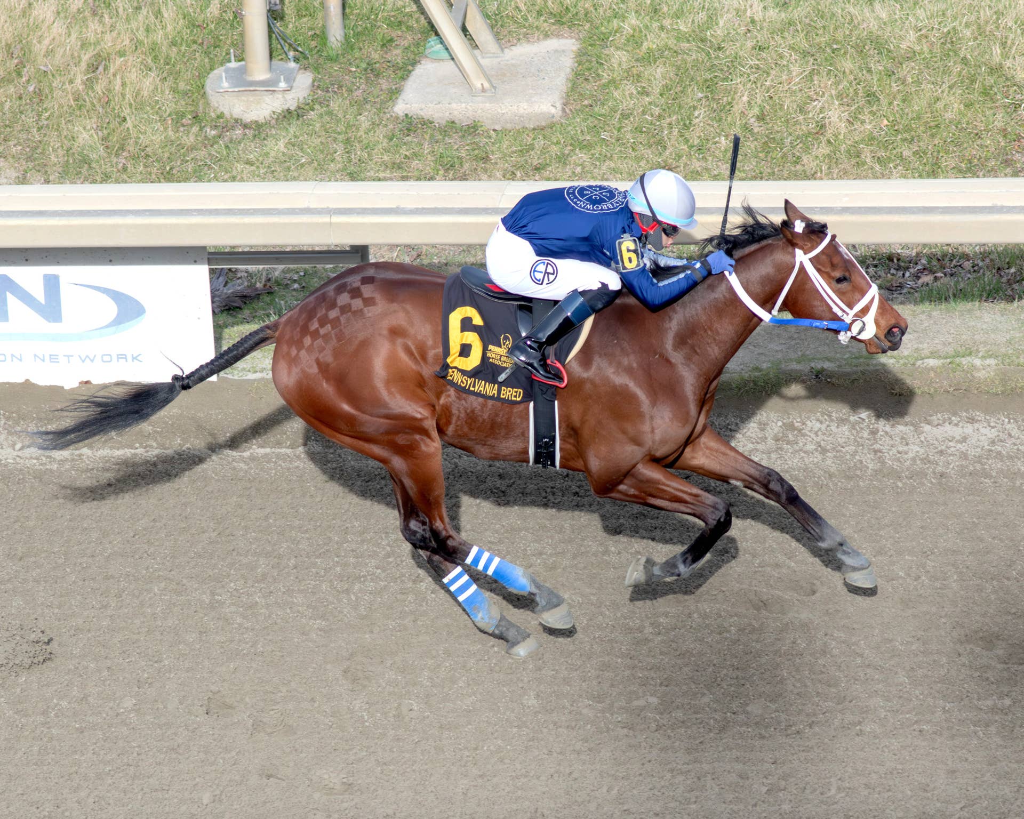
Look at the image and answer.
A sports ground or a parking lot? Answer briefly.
sports ground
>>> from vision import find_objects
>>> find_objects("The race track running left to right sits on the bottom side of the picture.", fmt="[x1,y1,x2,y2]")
[0,373,1024,819]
